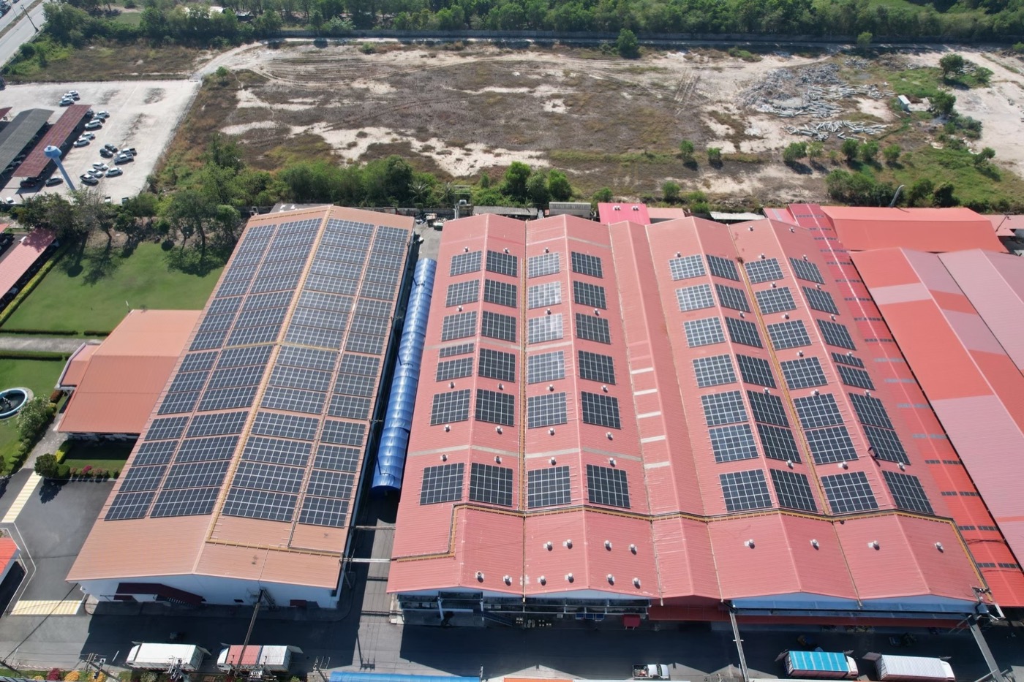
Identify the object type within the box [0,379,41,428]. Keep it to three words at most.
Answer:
fountain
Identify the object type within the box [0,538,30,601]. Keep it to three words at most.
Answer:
building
